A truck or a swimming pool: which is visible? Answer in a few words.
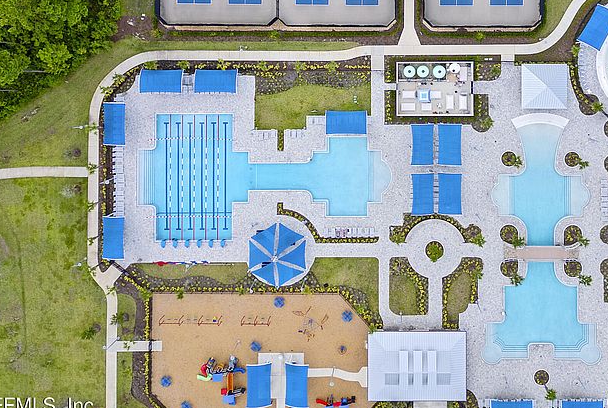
swimming pool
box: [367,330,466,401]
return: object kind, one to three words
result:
building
